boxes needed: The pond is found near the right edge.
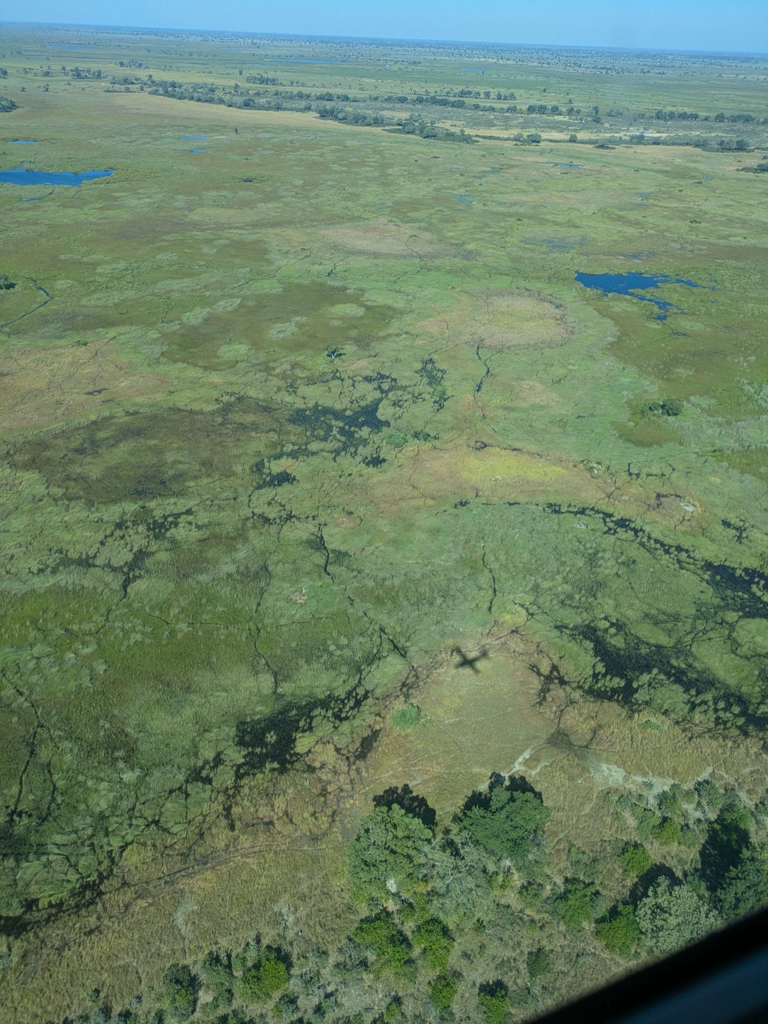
[565,273,731,343]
